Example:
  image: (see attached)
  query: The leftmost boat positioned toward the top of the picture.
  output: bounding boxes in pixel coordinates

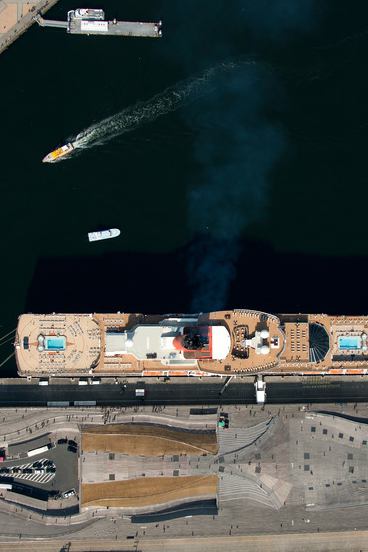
[42,141,74,160]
